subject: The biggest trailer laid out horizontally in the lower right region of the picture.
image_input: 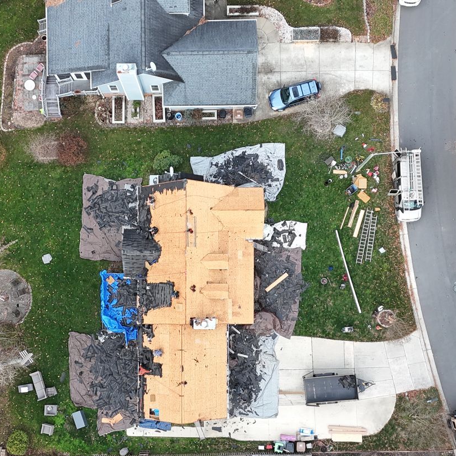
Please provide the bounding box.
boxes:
[309,371,377,405]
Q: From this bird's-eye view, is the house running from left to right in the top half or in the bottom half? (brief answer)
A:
top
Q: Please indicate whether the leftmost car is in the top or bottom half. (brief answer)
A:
top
